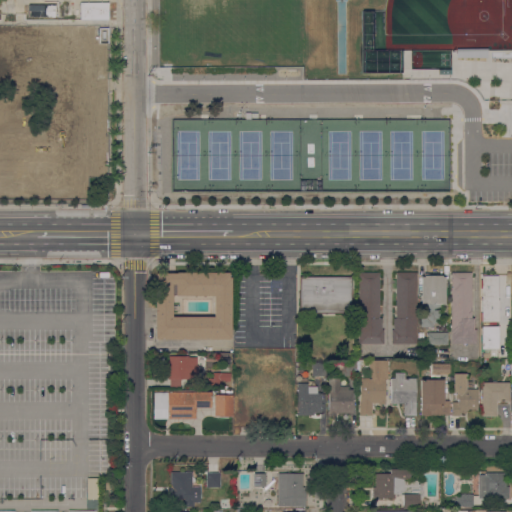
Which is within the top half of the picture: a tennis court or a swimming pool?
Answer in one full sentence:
Visible within the top half of the picture is a tennis court.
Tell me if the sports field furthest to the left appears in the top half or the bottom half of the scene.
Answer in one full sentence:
It is in the top half that the sports field furthest to the left appears.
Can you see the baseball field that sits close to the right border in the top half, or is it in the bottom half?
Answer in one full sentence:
The baseball field that sits close to the right border sits in the top half of the picture.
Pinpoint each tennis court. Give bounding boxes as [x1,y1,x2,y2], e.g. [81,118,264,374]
[240,130,262,180]
[208,130,232,180]
[390,130,413,180]
[178,130,200,180]
[422,130,444,180]
[270,130,293,180]
[328,130,352,180]
[359,130,382,180]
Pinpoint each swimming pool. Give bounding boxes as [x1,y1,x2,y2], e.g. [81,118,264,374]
[184,299,213,314]
[422,472,440,500]
[444,472,461,498]
[238,472,254,491]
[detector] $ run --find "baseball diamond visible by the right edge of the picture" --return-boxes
[386,0,512,49]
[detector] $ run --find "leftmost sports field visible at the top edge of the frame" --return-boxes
[160,0,304,66]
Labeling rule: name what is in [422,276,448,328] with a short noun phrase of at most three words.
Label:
house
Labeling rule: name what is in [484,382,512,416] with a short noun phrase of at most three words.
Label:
house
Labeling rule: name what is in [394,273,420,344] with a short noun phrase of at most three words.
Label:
building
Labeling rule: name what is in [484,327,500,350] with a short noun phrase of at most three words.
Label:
building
